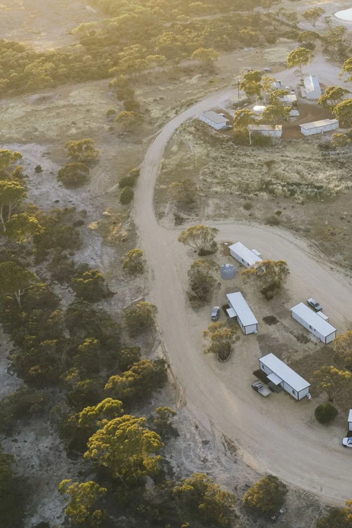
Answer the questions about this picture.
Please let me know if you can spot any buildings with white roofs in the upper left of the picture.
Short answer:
No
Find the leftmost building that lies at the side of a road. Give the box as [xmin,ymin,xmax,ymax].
[200,111,229,130]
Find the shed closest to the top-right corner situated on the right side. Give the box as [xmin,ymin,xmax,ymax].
[303,75,321,97]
